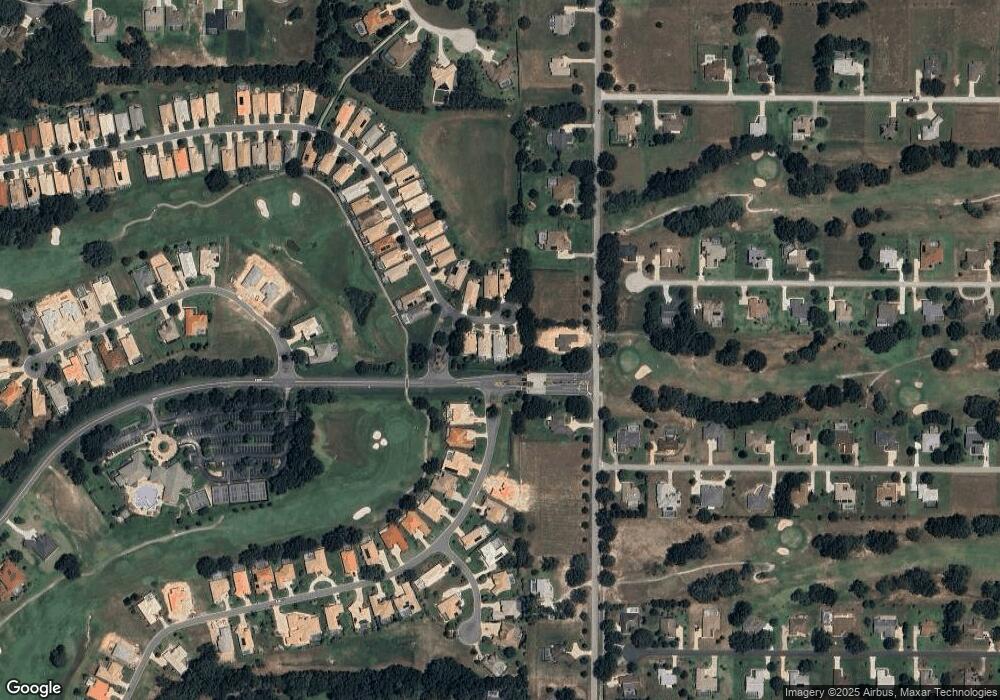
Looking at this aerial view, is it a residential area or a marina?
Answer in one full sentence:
What you see here is a residential area.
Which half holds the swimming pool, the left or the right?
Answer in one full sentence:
The swimming pool sits on the left side.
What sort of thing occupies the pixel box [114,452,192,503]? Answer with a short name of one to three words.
building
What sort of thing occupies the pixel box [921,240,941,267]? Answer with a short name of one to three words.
house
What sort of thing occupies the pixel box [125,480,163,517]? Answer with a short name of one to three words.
swimming pool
